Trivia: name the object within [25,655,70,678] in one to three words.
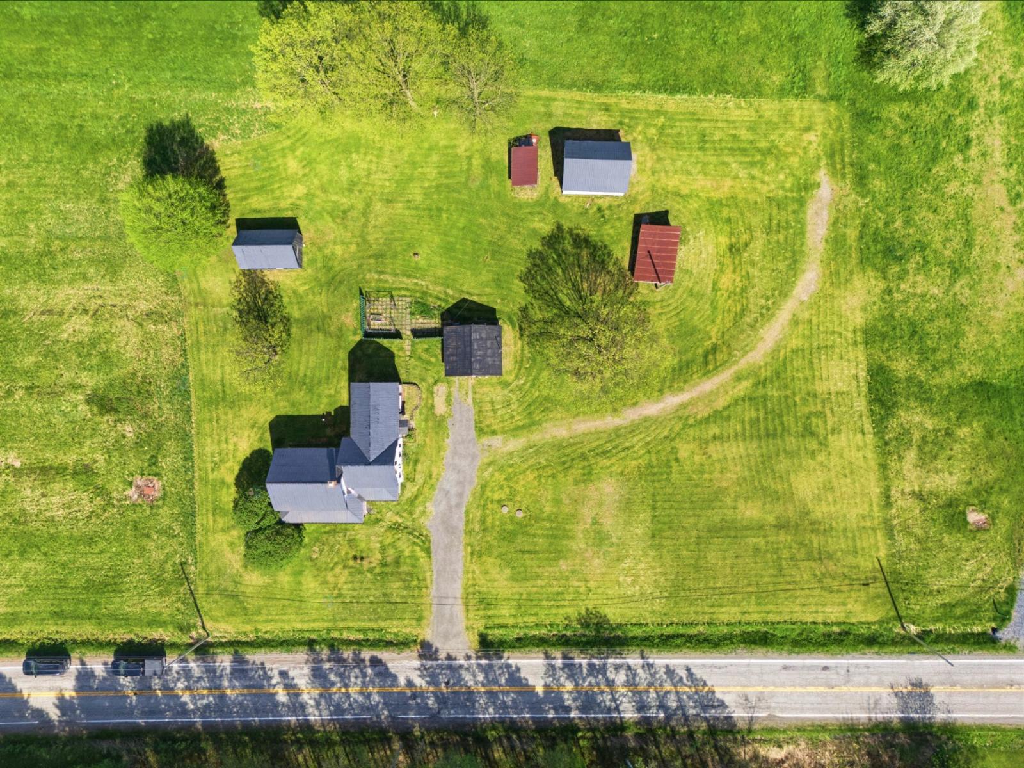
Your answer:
car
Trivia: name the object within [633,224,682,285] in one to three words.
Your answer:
shed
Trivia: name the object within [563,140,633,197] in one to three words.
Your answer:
barn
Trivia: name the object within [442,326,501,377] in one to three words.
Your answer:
building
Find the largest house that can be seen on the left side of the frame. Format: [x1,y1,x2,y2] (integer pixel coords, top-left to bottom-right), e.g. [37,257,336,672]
[266,383,418,523]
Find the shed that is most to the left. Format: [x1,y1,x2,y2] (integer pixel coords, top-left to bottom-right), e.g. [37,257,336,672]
[231,229,303,271]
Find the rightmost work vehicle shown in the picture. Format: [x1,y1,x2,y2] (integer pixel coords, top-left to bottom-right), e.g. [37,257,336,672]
[529,130,541,145]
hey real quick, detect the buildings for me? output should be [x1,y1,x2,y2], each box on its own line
[266,383,418,523]
[633,224,682,285]
[563,140,633,197]
[442,326,501,377]
[231,229,303,271]
[511,145,538,189]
